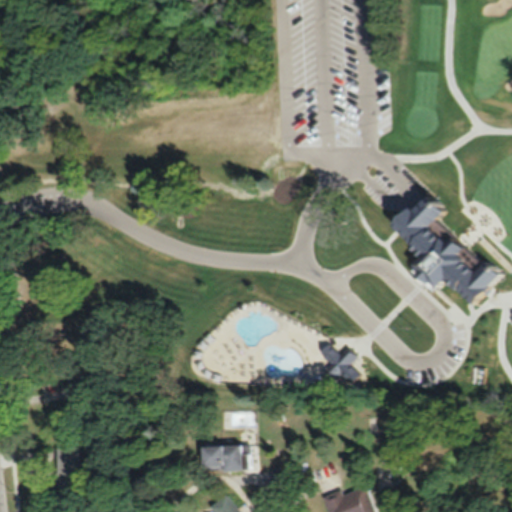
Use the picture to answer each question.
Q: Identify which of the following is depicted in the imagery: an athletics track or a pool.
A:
pool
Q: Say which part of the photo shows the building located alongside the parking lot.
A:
right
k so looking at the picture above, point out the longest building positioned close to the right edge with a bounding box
[387,198,505,304]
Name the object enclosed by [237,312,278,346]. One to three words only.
swimming pool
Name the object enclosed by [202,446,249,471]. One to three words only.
house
